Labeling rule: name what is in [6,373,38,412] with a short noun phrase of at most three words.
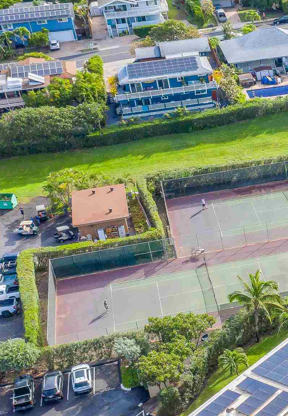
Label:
truck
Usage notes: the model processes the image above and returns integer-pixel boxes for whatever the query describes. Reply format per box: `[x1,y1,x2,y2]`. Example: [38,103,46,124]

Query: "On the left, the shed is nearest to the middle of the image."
[72,184,131,242]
